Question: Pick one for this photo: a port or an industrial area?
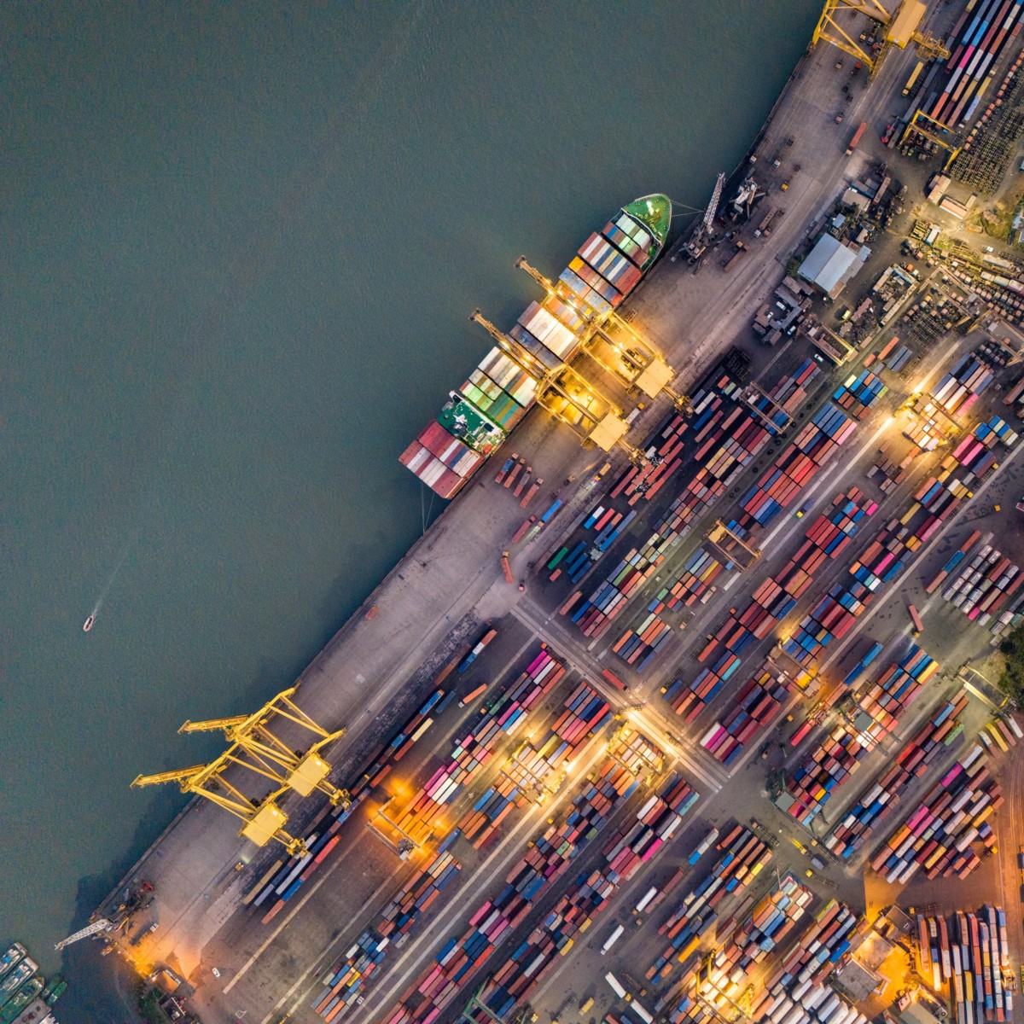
port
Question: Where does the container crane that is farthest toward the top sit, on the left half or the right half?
right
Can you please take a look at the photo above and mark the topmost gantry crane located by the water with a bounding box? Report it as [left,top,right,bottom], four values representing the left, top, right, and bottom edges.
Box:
[803,0,957,87]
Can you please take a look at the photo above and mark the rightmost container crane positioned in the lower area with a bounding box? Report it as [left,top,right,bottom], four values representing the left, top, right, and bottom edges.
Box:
[939,652,1011,712]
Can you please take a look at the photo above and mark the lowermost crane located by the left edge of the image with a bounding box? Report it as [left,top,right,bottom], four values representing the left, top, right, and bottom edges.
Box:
[47,901,140,947]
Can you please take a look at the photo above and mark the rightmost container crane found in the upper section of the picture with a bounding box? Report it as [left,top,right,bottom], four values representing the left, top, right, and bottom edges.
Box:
[962,310,1024,373]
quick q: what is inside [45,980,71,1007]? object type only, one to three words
boat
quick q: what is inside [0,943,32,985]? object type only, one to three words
boat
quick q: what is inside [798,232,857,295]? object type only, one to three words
building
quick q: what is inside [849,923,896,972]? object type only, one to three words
shed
